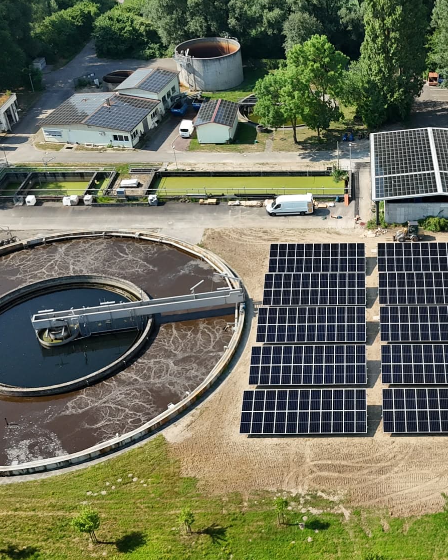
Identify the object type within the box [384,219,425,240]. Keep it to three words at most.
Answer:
work vehicle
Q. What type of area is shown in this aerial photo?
industrial area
